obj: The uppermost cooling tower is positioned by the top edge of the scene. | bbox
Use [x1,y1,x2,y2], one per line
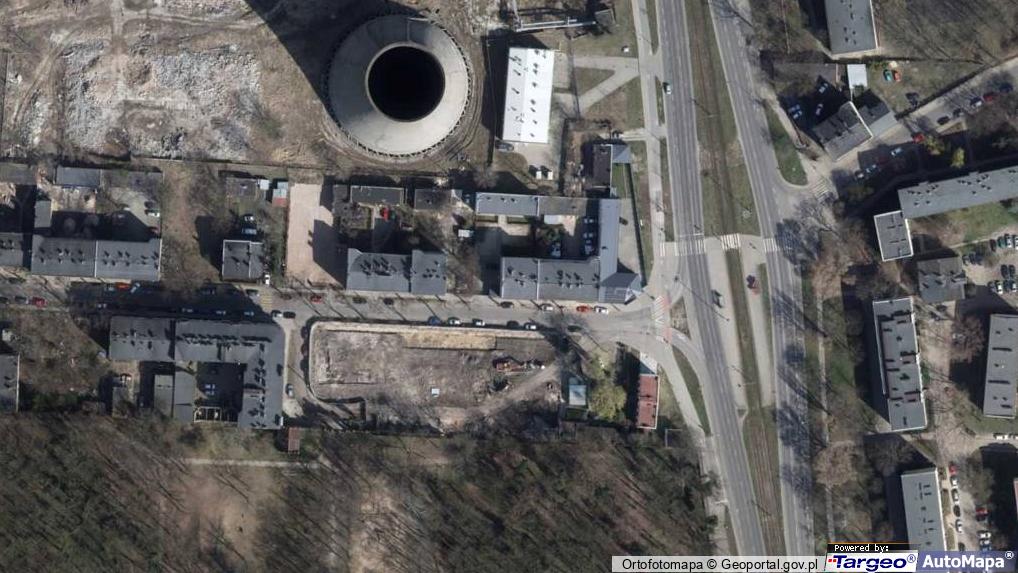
[322,10,473,162]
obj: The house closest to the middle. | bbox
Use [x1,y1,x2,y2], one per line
[500,257,539,299]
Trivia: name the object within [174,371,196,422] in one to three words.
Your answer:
shed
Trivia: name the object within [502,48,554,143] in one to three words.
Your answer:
building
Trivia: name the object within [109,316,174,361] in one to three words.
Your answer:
house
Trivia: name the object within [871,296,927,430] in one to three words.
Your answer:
building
